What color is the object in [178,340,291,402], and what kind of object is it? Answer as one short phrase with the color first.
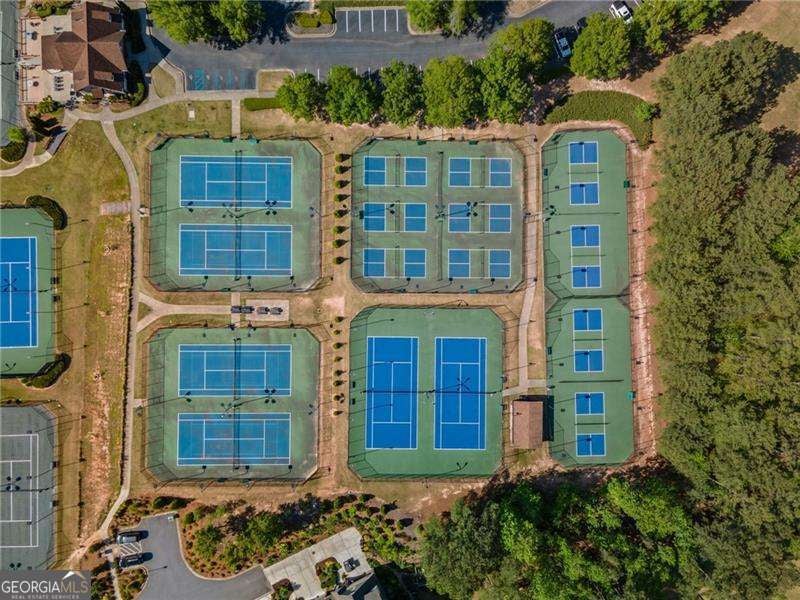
blue tennis court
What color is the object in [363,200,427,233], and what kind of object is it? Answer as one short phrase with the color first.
blue sports court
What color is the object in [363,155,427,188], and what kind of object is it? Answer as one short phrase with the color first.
blue sports court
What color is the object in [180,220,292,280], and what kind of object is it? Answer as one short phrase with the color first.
blue tennis court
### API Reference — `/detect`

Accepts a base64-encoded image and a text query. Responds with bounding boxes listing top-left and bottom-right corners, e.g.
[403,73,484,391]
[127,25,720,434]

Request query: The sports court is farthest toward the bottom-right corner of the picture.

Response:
[574,392,608,456]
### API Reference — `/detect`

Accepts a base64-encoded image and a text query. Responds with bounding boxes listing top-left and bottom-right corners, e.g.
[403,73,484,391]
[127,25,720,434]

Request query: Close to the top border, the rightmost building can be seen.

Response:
[41,0,132,104]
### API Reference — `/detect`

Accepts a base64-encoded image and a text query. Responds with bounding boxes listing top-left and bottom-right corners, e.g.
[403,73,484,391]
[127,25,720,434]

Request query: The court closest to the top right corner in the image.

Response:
[569,142,602,205]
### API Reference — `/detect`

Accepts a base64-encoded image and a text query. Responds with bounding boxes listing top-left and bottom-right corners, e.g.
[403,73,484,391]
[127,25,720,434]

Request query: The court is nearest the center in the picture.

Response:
[363,247,427,279]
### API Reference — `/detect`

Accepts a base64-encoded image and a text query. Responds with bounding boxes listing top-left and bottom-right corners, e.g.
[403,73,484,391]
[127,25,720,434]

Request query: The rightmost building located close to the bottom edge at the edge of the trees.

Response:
[321,563,391,600]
